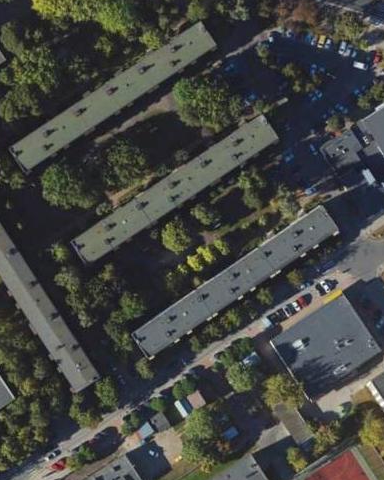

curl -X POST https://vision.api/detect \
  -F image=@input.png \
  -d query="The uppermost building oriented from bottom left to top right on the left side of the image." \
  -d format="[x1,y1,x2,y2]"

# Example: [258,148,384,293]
[8,21,216,172]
